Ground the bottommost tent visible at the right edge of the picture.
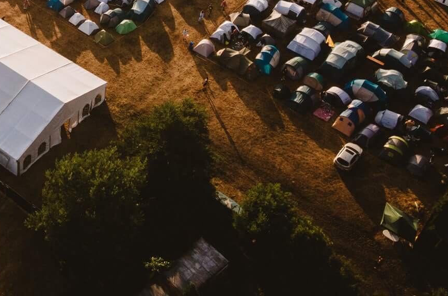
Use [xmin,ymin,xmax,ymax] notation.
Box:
[402,156,433,177]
